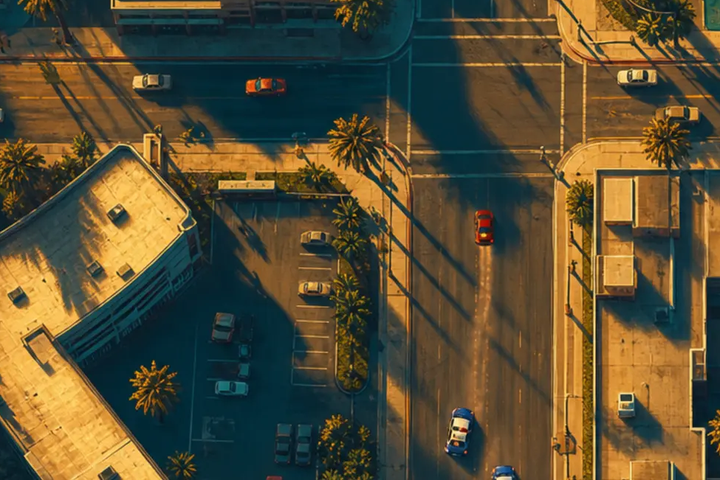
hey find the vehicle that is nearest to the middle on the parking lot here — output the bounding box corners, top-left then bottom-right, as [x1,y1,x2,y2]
[298,230,332,247]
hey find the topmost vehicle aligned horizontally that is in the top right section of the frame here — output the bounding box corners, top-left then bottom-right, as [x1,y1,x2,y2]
[617,69,657,87]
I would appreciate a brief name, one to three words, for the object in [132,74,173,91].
car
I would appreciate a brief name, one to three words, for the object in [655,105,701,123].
car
